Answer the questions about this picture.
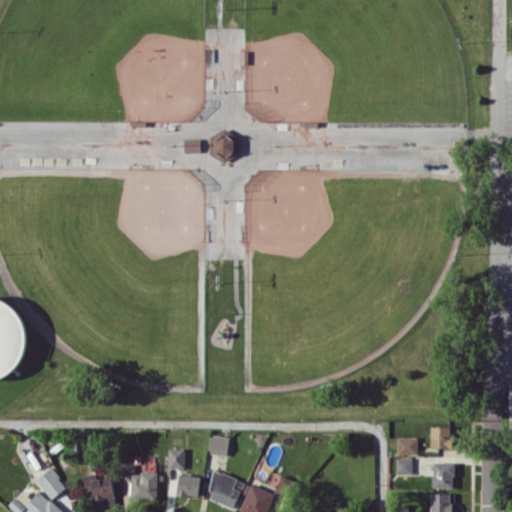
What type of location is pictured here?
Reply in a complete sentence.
The area seen from above is a sports ground.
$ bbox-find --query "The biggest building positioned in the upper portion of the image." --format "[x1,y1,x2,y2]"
[210,131,238,162]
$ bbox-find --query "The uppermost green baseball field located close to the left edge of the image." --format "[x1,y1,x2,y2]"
[0,0,204,122]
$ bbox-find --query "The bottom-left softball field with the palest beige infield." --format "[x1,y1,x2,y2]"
[0,170,204,391]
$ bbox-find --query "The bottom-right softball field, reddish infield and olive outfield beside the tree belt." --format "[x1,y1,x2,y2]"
[246,164,466,392]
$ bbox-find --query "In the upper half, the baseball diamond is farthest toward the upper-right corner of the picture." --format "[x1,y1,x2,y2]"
[246,0,469,127]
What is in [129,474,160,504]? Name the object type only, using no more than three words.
house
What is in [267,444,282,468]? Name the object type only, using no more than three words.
swimming pool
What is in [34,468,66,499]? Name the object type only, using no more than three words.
house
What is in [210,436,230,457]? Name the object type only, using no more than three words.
building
